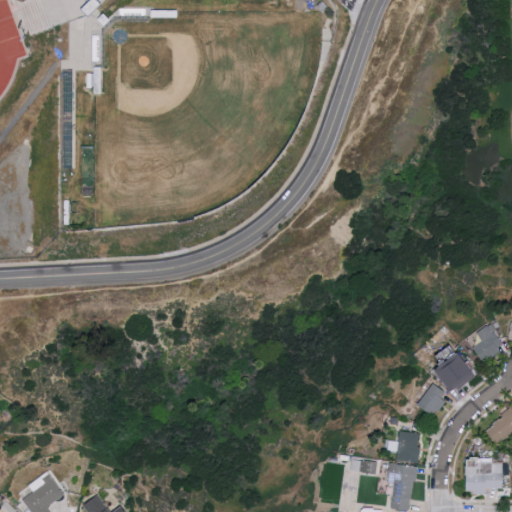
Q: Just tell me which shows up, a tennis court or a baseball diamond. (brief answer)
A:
baseball diamond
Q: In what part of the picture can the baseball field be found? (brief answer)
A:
top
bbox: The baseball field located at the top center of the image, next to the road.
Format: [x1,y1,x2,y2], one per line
[97,12,322,228]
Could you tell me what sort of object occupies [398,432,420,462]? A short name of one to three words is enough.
house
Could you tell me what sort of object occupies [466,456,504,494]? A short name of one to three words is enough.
house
